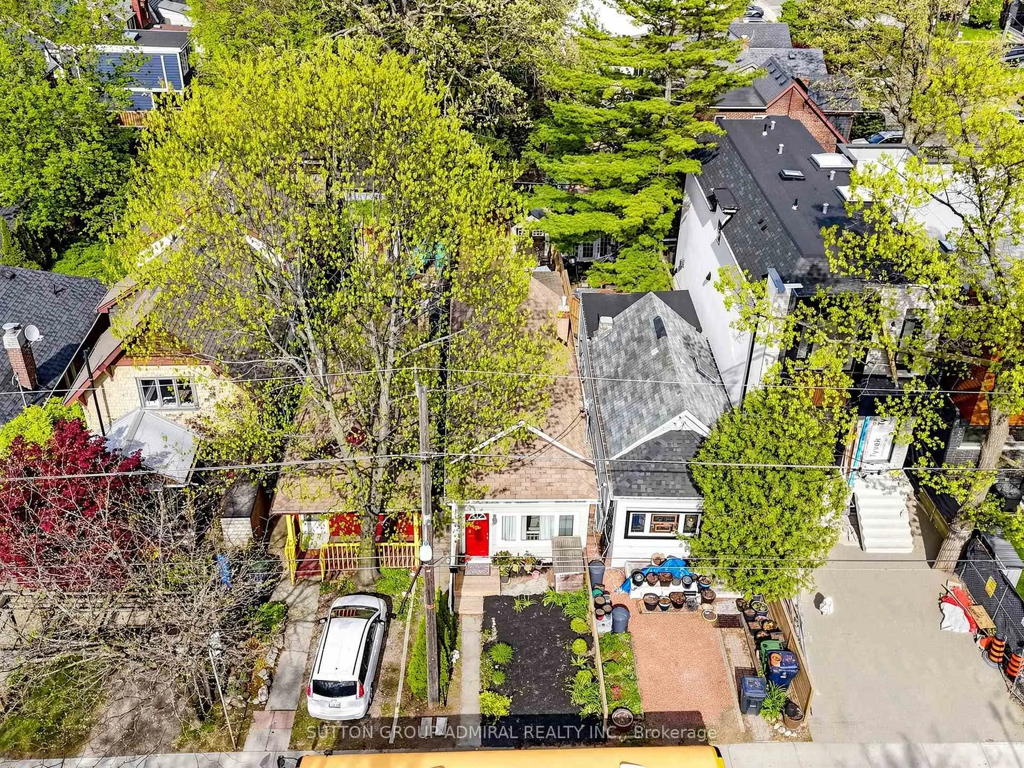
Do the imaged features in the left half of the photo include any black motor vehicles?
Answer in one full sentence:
No, in the left half of the photo there is no black motor vehicle.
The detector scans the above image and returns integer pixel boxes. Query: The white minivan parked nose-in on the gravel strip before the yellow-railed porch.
[309,597,390,714]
